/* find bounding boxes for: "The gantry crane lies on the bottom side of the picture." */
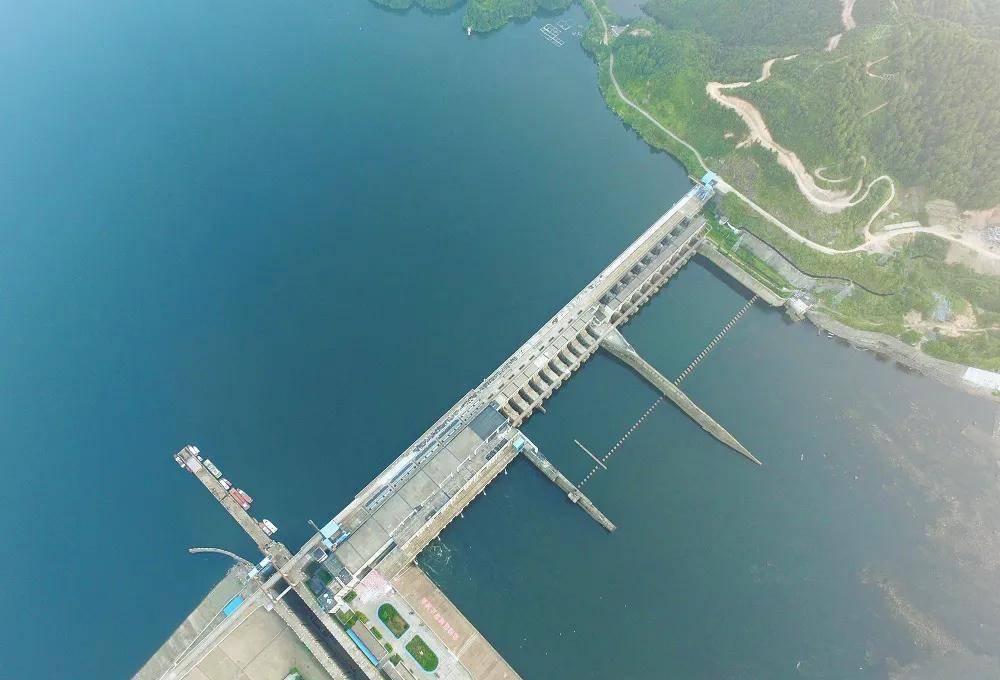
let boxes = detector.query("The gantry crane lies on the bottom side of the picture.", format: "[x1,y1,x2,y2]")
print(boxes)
[309,519,350,549]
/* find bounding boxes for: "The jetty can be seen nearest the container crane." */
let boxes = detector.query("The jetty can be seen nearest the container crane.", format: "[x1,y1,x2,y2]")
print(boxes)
[177,445,271,545]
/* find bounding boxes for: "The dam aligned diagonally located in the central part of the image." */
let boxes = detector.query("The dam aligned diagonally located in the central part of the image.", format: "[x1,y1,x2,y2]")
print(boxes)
[260,176,715,592]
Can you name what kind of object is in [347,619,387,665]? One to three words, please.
house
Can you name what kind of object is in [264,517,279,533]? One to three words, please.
boat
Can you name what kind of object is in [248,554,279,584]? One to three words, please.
house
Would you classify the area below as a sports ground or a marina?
marina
